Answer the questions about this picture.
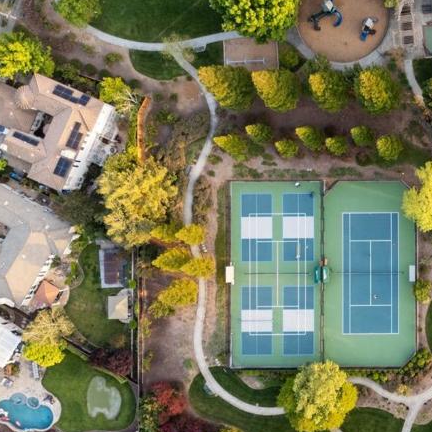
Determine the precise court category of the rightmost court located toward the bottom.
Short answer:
tennis court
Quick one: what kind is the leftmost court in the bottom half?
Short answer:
tennis court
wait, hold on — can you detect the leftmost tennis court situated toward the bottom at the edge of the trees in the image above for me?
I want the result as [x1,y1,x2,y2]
[229,180,322,368]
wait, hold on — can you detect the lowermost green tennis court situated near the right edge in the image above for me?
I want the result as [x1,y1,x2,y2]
[324,182,414,368]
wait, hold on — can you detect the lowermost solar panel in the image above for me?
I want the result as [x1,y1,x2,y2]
[53,156,72,178]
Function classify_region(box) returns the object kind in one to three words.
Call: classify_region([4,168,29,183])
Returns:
car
